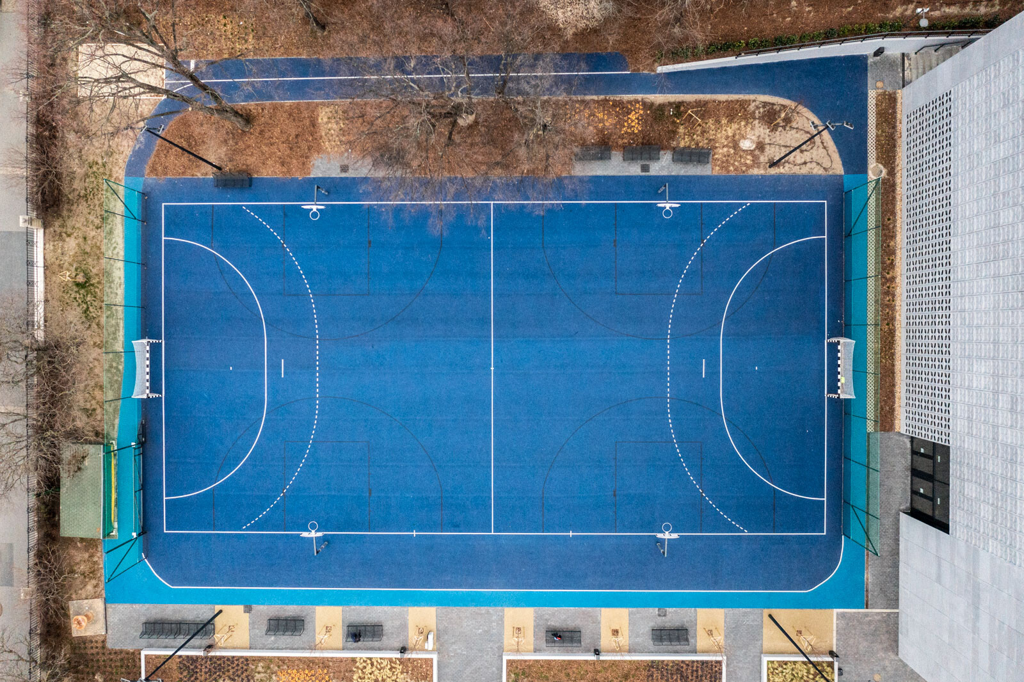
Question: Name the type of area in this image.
sports ground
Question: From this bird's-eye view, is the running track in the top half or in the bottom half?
top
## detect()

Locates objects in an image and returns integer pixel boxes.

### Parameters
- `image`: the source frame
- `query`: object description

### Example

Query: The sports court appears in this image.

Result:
[102,55,869,610]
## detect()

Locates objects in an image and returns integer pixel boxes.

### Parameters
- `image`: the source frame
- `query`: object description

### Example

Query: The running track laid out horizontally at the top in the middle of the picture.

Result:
[124,52,868,176]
